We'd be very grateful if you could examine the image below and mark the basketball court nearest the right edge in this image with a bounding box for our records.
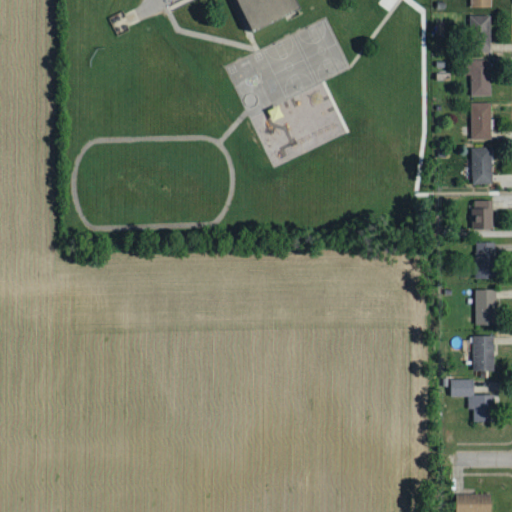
[296,20,348,81]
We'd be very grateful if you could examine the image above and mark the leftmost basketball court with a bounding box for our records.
[264,35,316,97]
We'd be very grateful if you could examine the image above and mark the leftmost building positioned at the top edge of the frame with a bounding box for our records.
[238,0,304,31]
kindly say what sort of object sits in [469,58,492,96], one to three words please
house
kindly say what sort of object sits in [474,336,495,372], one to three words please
house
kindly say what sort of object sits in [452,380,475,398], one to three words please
building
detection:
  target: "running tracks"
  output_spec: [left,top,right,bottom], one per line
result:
[72,134,235,232]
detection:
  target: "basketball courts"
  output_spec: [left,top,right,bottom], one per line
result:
[264,35,316,97]
[296,20,348,81]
